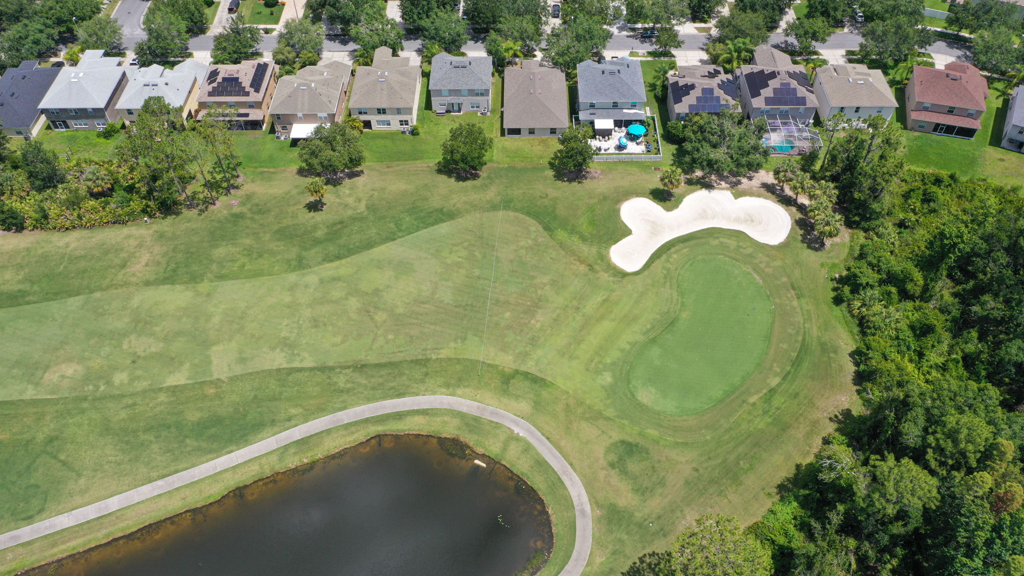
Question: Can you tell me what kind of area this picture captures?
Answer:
golf course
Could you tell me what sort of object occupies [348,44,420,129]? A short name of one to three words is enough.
house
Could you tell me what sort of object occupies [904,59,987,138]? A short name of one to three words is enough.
house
